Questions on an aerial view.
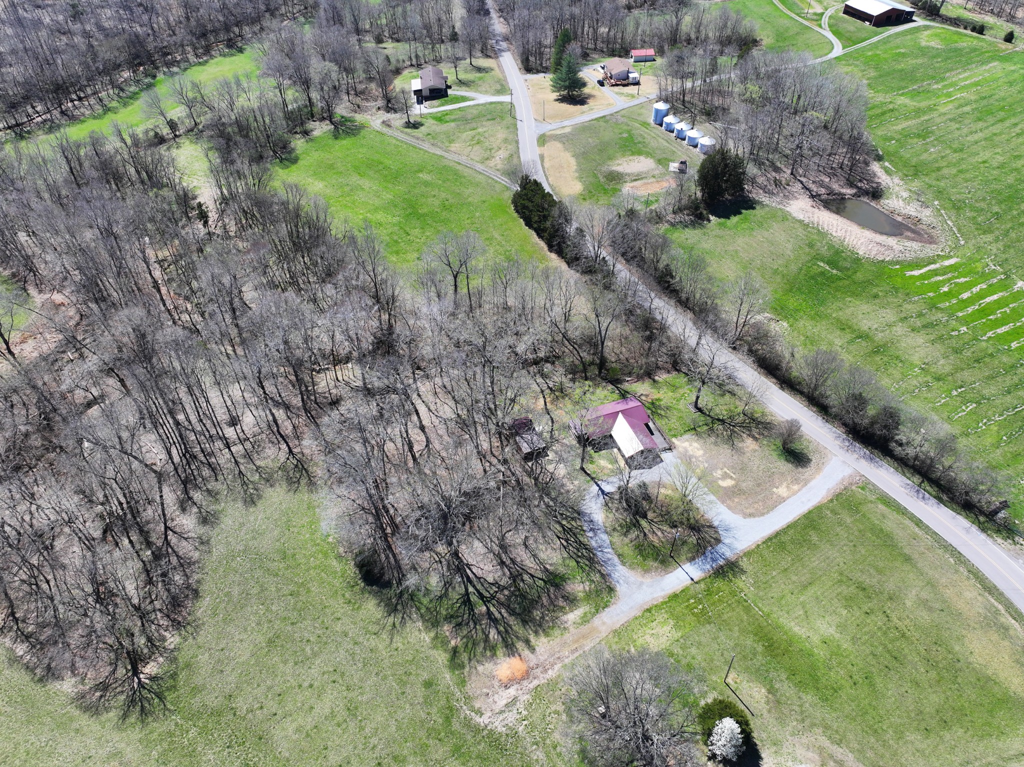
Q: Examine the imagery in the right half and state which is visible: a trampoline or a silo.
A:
silo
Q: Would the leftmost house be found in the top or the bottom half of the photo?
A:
top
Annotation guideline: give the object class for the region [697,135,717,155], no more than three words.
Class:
silo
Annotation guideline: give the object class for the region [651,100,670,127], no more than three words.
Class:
silo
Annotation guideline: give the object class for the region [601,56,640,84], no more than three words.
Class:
house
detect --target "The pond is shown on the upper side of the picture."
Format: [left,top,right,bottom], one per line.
[817,198,907,239]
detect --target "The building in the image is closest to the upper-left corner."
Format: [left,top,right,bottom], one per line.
[411,66,448,96]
